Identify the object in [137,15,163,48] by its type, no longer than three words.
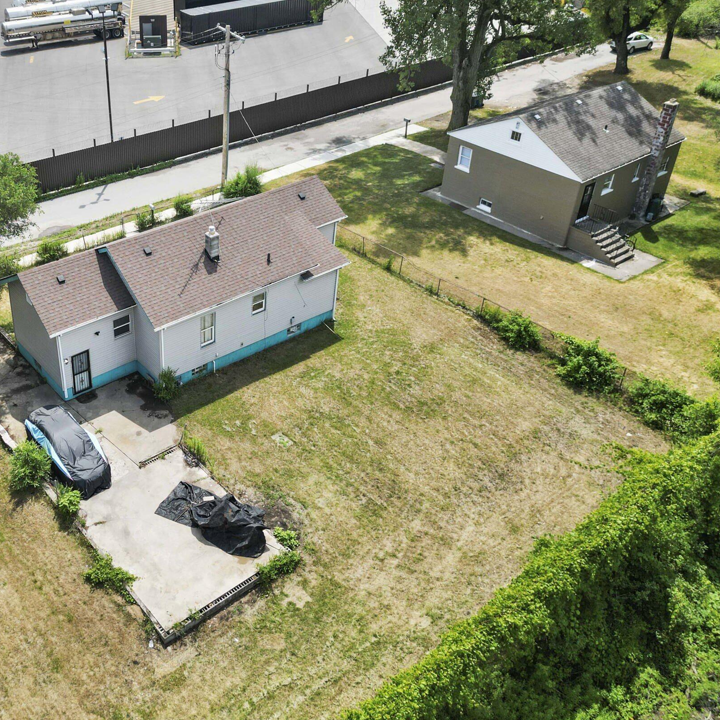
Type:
shed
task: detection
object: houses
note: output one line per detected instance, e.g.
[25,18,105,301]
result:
[2,171,354,399]
[439,81,694,266]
